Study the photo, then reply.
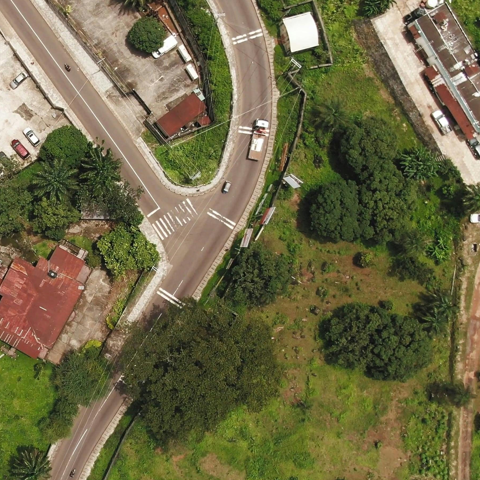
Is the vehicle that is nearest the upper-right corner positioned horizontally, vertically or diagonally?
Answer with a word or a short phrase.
diagonally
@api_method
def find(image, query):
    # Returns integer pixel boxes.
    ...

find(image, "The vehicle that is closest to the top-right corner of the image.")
[430,110,454,135]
